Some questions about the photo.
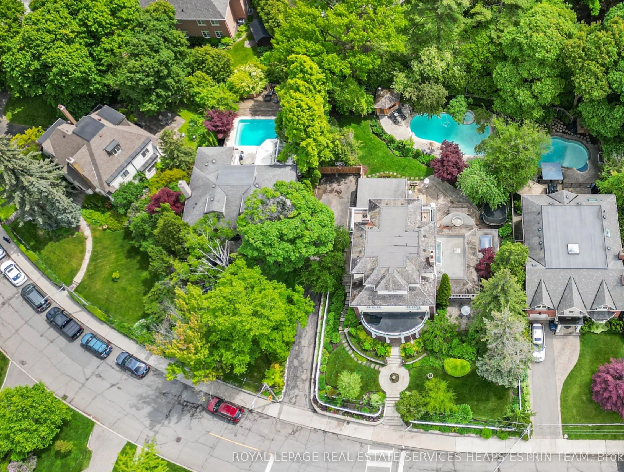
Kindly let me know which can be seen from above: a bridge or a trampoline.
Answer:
trampoline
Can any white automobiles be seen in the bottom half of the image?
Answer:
Yes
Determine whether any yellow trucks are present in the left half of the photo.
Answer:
No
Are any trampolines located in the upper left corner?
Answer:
No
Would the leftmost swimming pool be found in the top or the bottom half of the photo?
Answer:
top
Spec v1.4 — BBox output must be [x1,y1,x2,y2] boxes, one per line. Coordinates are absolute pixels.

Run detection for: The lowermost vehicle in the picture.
[204,394,248,427]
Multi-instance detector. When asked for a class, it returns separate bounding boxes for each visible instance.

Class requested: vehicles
[0,257,31,290]
[19,281,55,314]
[204,394,248,427]
[43,304,86,344]
[113,349,154,383]
[528,322,549,365]
[77,331,116,364]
